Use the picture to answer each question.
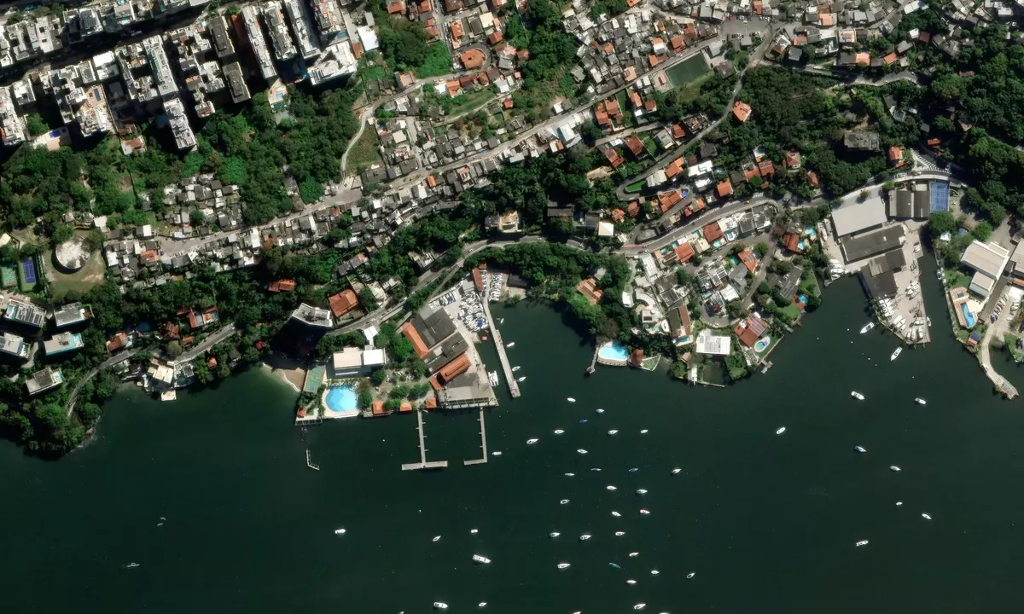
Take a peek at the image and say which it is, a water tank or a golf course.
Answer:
water tank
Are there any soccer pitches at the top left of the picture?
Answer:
No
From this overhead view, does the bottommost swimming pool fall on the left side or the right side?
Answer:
left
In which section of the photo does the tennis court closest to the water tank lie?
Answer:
left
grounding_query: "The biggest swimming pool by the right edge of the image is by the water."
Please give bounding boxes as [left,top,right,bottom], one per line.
[950,288,981,328]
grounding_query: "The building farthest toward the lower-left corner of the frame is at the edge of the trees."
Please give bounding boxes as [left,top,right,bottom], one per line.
[26,367,63,396]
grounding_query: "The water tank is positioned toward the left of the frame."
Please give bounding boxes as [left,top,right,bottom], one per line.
[56,238,91,271]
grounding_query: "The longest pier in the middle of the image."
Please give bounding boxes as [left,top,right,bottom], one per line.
[483,297,520,397]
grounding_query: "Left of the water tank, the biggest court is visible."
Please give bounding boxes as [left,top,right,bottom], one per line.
[18,256,40,292]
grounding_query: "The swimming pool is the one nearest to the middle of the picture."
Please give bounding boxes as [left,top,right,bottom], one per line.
[597,342,629,366]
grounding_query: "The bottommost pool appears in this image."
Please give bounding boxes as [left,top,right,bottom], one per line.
[322,381,359,419]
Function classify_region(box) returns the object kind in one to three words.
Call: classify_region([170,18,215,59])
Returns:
building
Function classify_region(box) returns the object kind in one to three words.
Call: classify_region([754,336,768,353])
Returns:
swimming pool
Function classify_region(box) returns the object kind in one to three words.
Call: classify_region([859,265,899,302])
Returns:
shed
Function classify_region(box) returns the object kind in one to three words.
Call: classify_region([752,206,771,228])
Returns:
house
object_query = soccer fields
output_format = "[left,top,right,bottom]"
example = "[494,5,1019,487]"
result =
[665,50,711,89]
